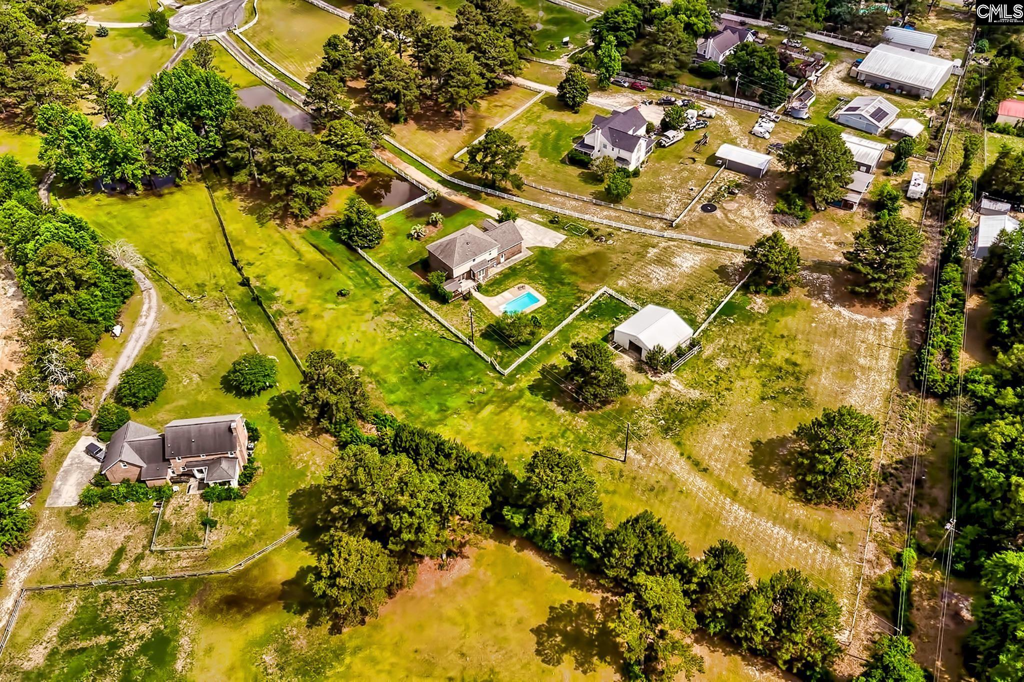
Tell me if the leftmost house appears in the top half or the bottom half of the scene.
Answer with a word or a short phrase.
bottom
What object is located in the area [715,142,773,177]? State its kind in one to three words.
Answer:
shed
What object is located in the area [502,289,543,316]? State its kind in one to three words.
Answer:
swimming pool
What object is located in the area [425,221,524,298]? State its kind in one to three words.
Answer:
house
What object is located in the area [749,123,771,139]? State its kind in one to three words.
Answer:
vehicle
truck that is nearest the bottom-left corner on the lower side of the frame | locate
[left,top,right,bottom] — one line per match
[81,439,106,464]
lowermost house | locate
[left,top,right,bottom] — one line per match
[101,414,249,490]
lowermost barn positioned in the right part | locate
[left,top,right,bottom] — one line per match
[614,304,700,371]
